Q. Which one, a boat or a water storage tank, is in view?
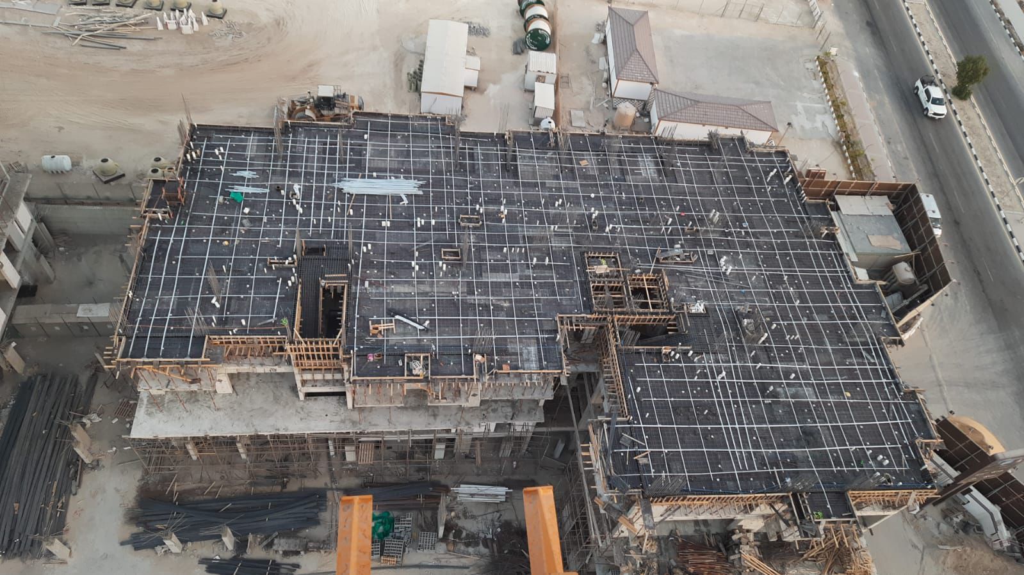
water storage tank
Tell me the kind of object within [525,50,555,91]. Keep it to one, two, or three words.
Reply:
building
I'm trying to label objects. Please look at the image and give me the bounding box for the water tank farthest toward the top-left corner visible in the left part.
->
[39,158,75,182]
